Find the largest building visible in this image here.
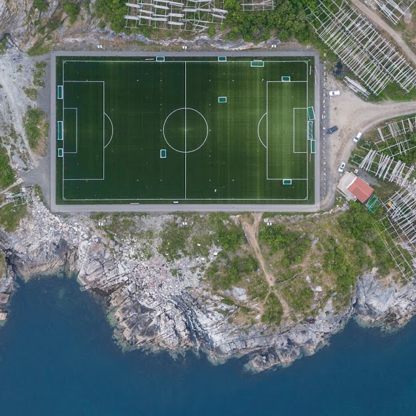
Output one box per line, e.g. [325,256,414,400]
[337,172,374,203]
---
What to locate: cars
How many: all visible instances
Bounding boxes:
[338,160,345,172]
[326,126,338,133]
[329,90,339,95]
[353,131,362,142]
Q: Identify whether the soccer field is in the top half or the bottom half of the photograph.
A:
top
